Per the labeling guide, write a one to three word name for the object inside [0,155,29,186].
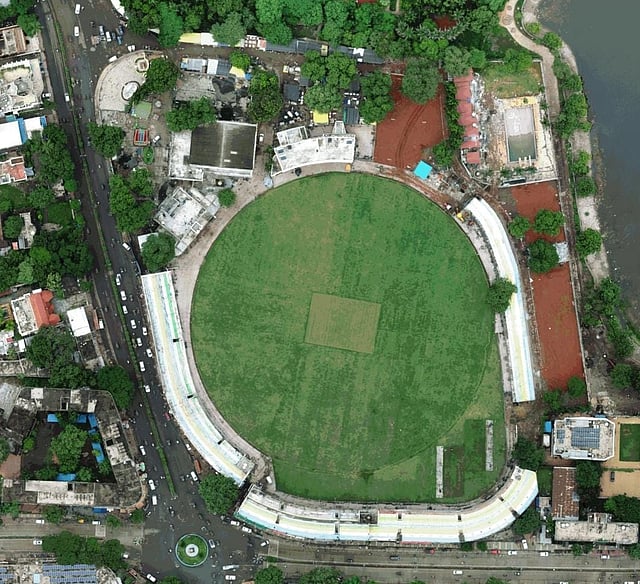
house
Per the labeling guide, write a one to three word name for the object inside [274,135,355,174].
building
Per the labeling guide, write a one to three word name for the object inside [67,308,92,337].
house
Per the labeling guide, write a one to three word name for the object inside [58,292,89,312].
shed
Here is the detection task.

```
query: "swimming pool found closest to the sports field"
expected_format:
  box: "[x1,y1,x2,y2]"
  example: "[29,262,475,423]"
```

[496,94,556,186]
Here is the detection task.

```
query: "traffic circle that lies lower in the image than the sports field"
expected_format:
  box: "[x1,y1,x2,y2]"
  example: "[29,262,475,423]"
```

[176,534,208,566]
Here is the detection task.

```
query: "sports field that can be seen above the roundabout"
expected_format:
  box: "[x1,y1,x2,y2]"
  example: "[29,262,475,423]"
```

[160,158,517,510]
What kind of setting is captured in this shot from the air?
sports ground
